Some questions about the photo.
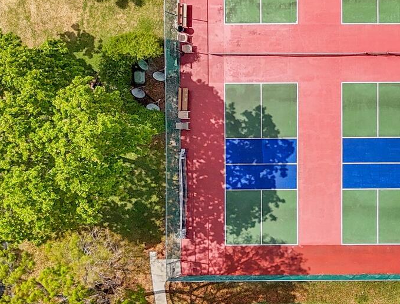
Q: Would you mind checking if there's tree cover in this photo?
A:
Yes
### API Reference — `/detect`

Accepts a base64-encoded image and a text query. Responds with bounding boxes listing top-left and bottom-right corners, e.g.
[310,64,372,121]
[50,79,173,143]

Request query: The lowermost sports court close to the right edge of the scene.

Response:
[341,82,400,244]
